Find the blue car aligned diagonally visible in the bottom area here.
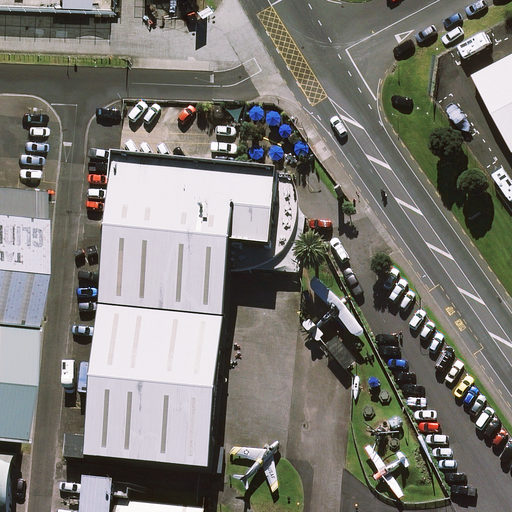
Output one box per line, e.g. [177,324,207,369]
[464,384,481,405]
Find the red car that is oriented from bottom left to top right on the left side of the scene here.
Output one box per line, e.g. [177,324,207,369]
[177,104,196,124]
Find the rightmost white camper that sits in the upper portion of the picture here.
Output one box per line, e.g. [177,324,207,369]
[491,171,512,208]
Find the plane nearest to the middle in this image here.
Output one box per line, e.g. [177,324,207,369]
[303,277,363,340]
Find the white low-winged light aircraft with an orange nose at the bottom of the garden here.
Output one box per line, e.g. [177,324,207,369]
[365,445,409,498]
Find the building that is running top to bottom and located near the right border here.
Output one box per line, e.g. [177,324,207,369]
[471,54,512,150]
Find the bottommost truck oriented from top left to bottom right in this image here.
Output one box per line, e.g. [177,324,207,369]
[342,268,364,295]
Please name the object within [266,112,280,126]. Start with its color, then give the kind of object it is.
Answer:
blue umbrella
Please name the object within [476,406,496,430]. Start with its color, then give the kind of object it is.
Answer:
white vehicle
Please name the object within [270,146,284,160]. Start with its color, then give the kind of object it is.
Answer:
blue umbrella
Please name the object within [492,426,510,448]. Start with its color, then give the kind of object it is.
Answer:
red car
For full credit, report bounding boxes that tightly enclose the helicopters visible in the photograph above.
[365,417,401,450]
